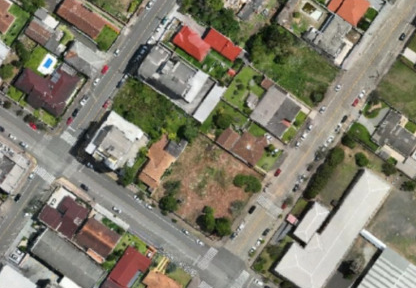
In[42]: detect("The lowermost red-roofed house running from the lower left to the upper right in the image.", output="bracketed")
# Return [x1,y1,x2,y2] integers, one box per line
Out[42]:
[103,244,150,288]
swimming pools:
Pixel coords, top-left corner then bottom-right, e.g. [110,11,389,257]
[301,1,317,13]
[42,57,54,69]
